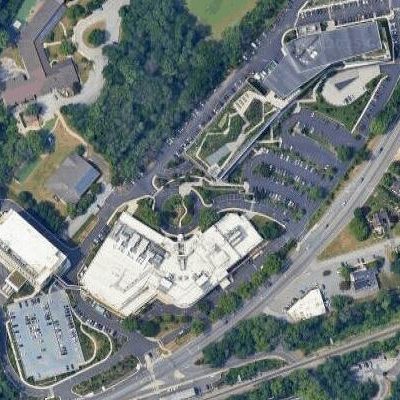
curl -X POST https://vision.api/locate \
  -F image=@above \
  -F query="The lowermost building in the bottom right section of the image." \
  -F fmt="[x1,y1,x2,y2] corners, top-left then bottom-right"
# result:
[287,289,326,323]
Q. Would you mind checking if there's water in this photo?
No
